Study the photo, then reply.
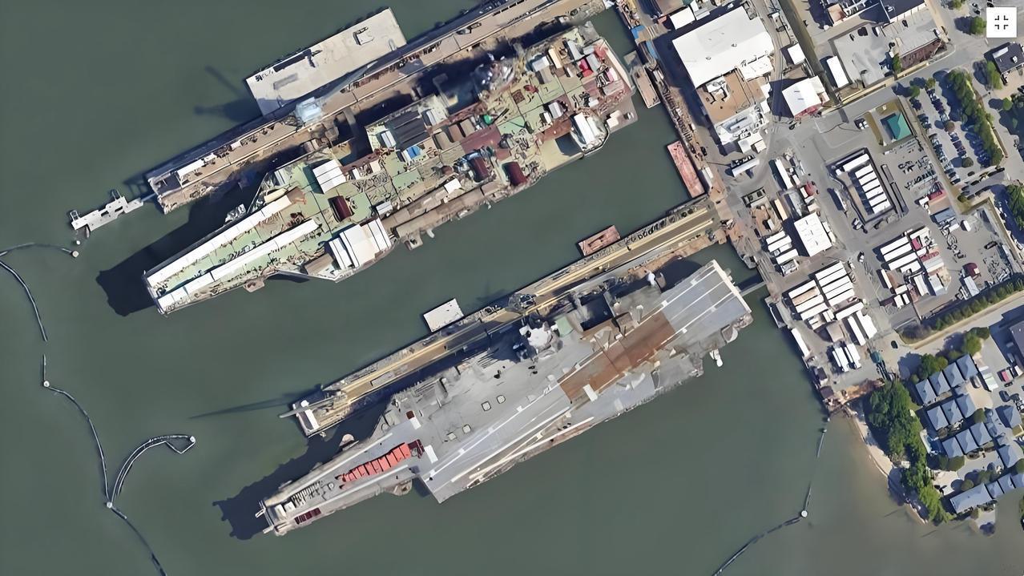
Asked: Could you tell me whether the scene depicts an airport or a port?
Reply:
port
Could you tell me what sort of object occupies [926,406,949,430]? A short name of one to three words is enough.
house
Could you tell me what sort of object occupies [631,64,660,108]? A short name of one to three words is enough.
ship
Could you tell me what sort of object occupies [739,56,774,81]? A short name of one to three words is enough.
building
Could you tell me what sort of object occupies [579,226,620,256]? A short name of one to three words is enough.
ship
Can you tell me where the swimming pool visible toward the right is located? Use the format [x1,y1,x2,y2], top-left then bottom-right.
[922,430,939,456]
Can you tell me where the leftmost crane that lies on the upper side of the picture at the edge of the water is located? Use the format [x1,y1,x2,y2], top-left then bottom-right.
[290,61,380,129]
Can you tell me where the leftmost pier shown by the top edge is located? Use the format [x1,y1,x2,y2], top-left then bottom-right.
[146,0,609,214]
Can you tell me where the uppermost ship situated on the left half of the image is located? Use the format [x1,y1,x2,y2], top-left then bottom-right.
[247,8,407,116]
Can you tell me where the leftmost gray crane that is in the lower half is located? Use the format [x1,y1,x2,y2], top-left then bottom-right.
[278,385,350,419]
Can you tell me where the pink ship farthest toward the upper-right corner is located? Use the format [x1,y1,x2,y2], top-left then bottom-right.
[668,141,704,198]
